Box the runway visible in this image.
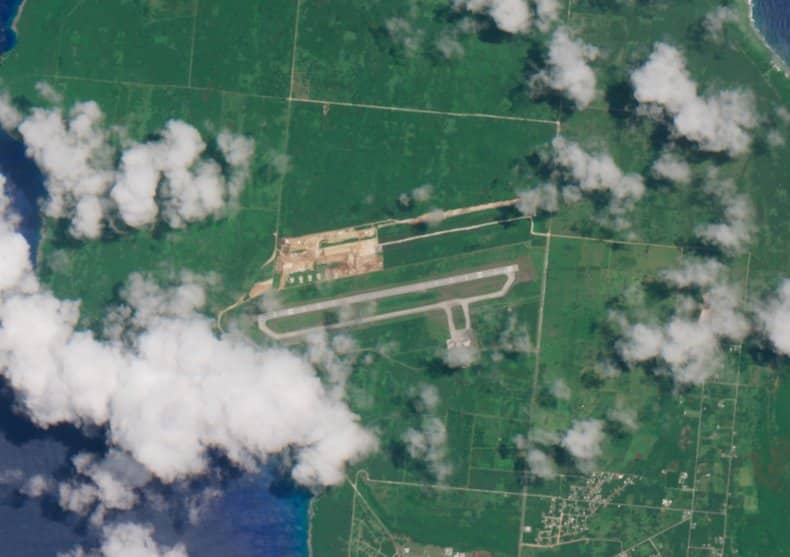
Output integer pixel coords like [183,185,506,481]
[261,265,519,320]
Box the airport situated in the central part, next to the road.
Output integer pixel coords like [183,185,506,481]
[260,254,535,352]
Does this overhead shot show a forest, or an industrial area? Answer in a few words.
forest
